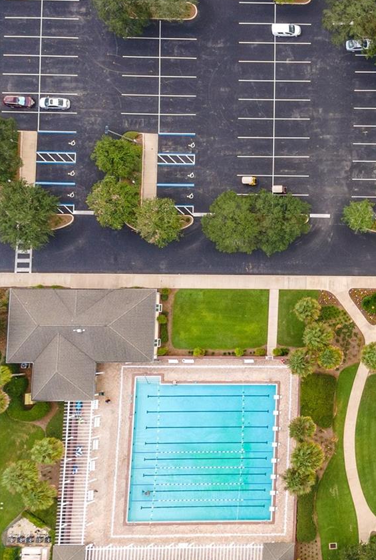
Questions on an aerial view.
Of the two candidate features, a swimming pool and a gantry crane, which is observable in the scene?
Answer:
swimming pool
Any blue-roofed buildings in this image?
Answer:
No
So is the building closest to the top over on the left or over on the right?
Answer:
left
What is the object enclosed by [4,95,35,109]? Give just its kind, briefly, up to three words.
car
